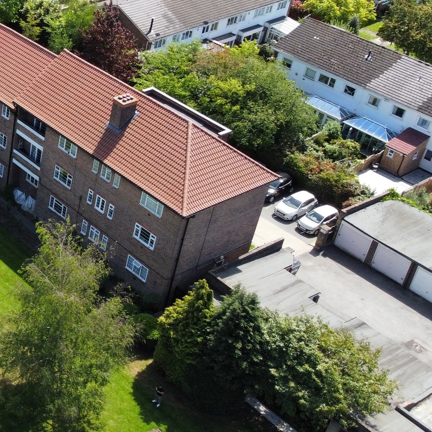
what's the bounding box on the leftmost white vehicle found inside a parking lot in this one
[277,186,316,223]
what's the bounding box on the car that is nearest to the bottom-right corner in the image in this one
[301,202,339,236]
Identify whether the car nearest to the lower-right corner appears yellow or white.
white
